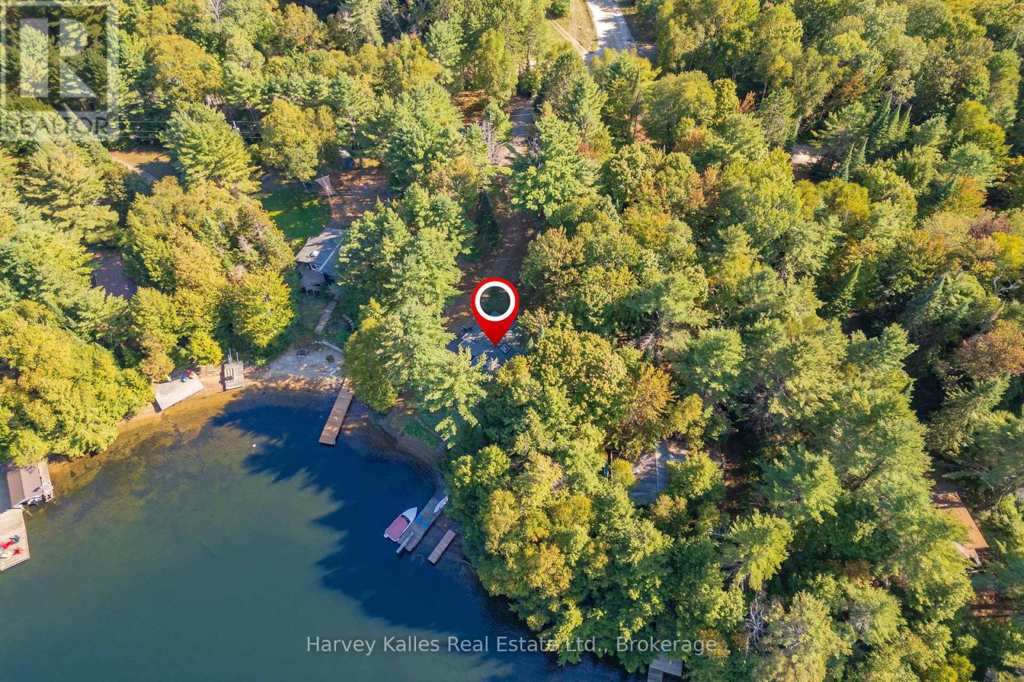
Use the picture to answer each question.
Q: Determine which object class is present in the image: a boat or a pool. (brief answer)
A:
boat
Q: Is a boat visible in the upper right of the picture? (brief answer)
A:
No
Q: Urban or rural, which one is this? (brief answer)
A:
rural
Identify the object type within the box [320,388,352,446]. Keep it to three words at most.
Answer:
pier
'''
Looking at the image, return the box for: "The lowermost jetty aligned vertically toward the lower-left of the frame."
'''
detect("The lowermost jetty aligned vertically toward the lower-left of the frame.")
[0,509,31,573]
